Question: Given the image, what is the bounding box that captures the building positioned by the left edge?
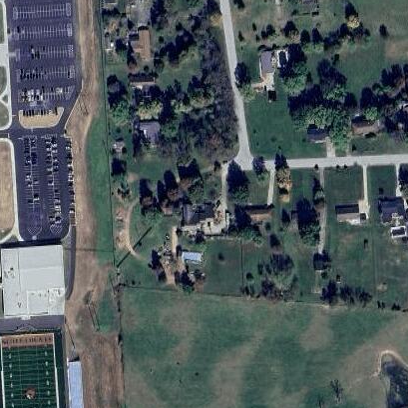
[0,246,63,320]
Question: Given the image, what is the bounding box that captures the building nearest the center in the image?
[184,205,216,230]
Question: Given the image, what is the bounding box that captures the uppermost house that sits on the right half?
[258,51,274,76]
